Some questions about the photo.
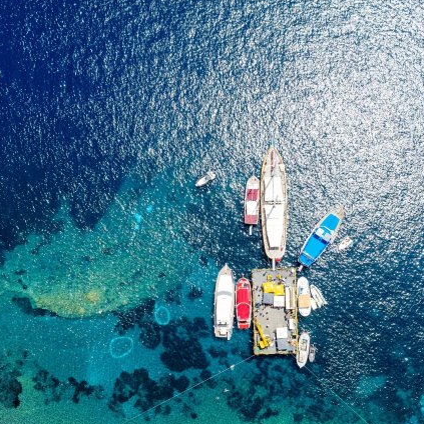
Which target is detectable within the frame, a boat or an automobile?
boat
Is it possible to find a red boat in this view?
Yes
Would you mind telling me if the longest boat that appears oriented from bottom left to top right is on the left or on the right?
right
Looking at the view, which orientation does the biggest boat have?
up and down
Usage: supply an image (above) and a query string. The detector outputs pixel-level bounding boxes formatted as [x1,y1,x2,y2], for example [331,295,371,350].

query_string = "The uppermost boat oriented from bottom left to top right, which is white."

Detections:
[196,170,217,185]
